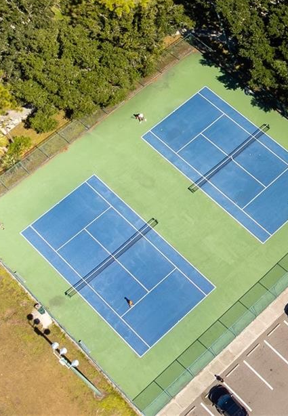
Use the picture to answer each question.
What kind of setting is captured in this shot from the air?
sports ground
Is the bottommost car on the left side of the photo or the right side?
right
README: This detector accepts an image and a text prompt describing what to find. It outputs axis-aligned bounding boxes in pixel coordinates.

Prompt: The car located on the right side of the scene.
[211,384,250,416]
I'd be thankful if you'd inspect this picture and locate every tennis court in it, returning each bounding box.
[0,130,280,416]
[91,49,288,302]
